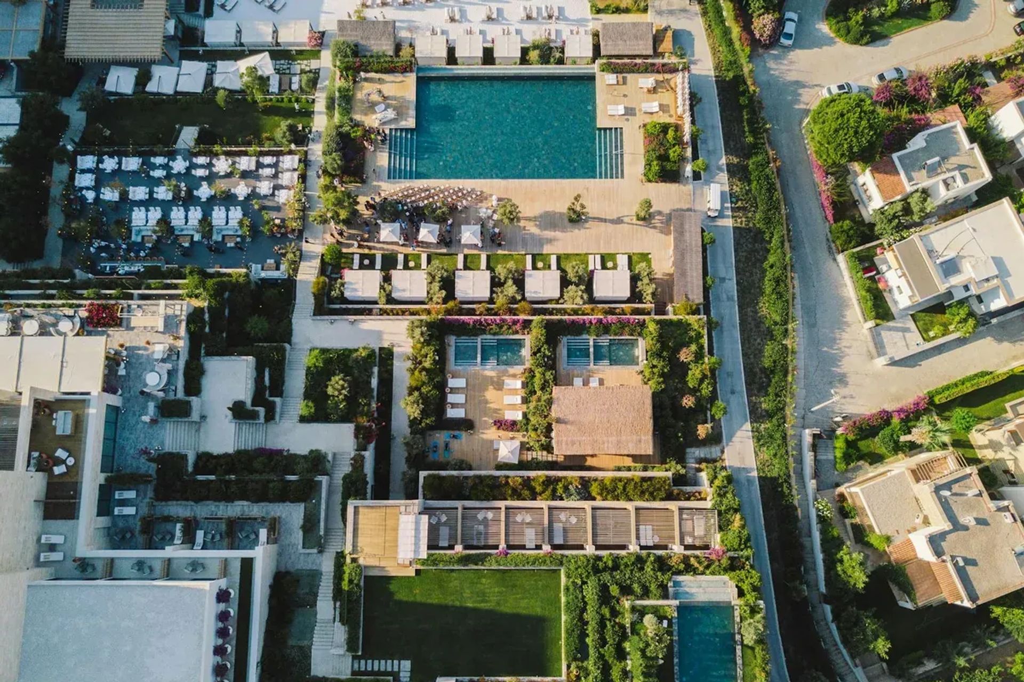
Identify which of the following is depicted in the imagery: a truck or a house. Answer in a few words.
house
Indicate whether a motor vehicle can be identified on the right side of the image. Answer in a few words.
Yes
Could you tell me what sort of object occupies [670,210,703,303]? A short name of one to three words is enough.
building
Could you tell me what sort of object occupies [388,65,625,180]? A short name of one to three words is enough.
swimming pool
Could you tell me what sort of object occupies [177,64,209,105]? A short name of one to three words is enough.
umbrella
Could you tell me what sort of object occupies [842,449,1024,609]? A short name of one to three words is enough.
house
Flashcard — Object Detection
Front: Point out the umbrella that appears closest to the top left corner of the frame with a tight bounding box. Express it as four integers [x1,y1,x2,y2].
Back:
[104,66,140,108]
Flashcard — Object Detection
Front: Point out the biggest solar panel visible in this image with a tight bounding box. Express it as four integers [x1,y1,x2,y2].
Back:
[938,257,963,282]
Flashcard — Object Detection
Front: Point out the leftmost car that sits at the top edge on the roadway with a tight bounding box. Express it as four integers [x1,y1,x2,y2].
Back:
[778,13,796,46]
